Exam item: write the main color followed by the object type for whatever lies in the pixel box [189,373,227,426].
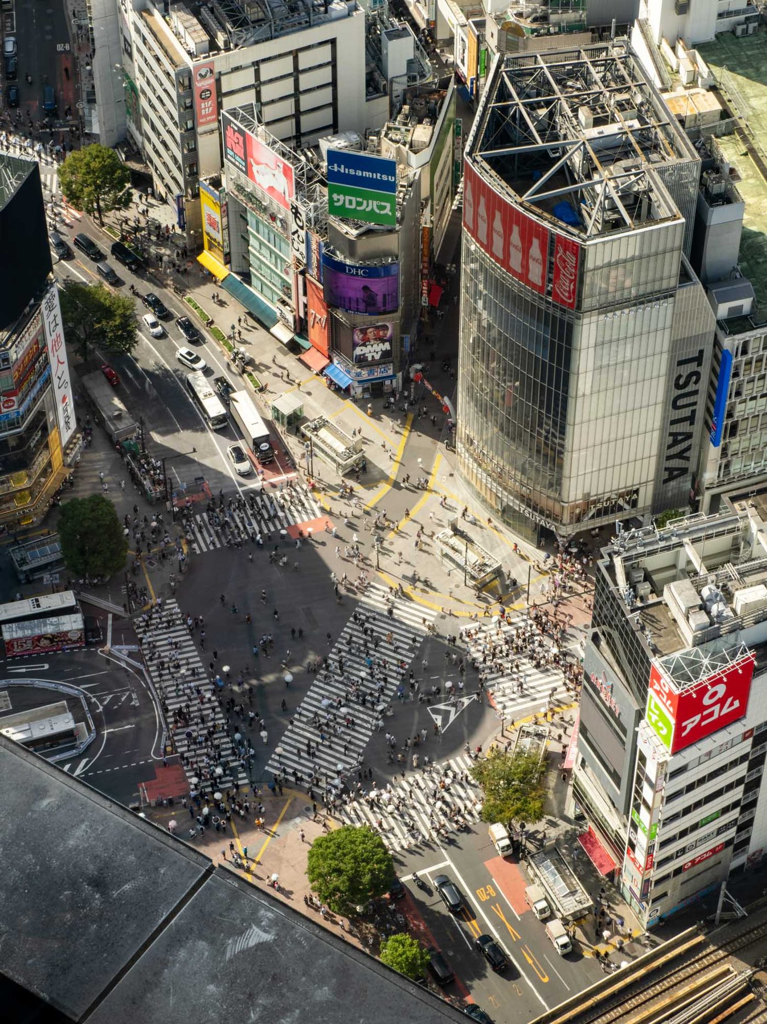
white bus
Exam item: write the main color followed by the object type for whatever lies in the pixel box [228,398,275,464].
white truck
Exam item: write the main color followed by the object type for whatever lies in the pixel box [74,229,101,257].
black car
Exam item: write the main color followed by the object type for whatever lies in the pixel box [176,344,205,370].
white car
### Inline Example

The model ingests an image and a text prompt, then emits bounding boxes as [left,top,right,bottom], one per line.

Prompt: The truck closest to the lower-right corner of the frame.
[548,915,576,951]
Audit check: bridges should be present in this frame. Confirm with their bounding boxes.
[549,894,767,1024]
